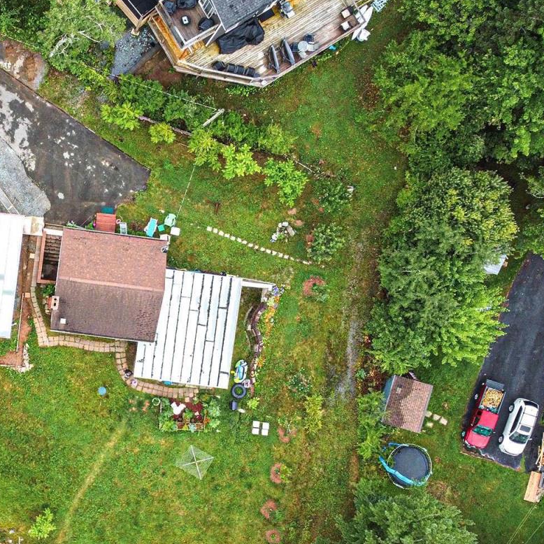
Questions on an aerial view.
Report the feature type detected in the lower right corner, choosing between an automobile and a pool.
automobile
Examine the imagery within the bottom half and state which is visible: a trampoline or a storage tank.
trampoline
